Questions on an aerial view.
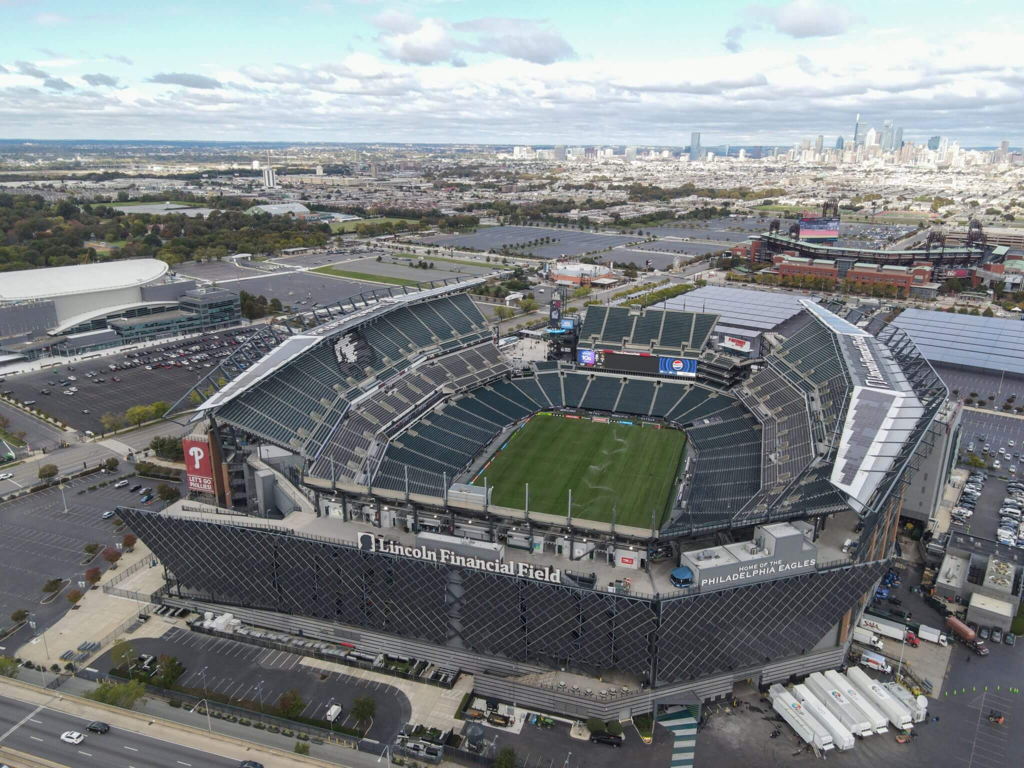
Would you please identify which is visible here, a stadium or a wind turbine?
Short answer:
stadium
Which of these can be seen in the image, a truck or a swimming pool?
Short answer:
truck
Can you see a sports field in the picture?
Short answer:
Yes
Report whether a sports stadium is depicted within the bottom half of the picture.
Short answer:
Yes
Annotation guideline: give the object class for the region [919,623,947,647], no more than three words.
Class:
truck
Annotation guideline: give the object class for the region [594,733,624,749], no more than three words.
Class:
vehicle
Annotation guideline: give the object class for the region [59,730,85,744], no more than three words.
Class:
car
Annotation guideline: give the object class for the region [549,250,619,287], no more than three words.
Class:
building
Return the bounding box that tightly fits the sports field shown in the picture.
[481,415,686,525]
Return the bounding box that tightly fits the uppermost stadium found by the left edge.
[0,258,241,363]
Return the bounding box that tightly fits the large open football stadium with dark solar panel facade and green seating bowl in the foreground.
[115,274,956,725]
